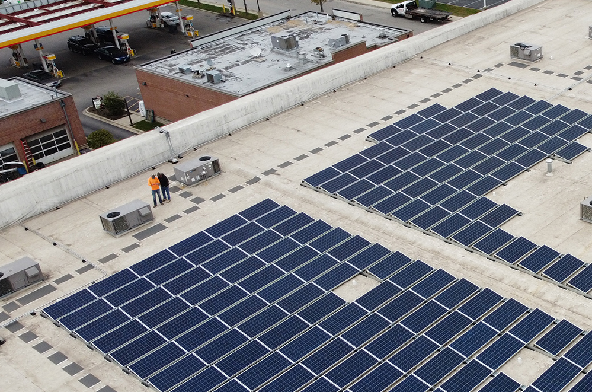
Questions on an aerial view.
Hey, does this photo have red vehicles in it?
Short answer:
No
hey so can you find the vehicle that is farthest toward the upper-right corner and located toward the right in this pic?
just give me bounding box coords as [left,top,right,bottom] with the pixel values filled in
[389,0,458,22]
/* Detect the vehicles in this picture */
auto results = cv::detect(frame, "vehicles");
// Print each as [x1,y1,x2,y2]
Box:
[92,43,131,62]
[154,9,182,26]
[90,23,129,43]
[389,0,458,22]
[20,64,62,84]
[61,31,102,53]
